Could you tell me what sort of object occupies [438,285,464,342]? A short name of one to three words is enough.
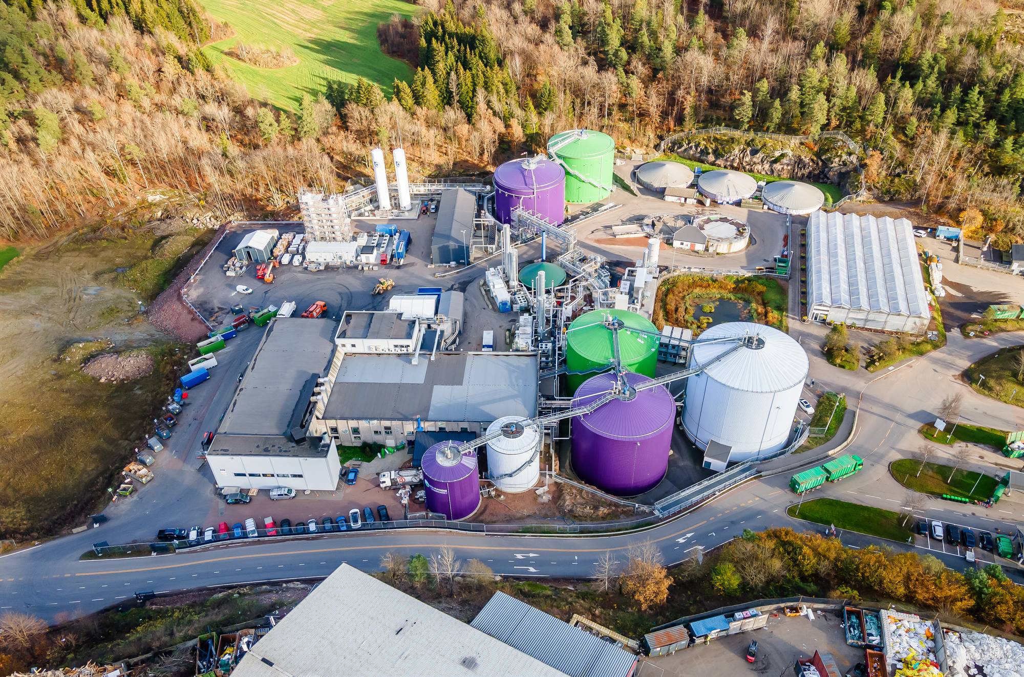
shed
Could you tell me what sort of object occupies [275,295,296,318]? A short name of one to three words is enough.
truck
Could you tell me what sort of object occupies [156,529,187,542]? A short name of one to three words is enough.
vehicle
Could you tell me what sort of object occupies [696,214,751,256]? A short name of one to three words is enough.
storage tank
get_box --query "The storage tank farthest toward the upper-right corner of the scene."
[763,184,826,222]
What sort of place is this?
industrial area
